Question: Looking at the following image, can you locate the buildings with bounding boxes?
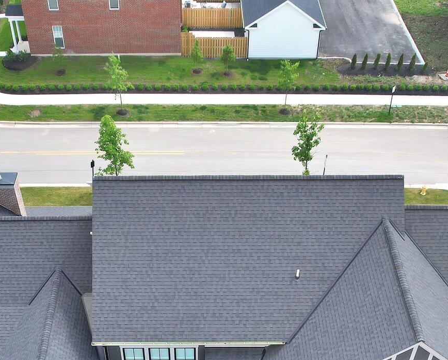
[0,162,448,360]
[0,0,183,55]
[242,0,326,58]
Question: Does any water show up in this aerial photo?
No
